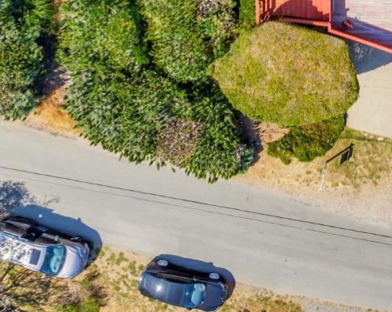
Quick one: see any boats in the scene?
No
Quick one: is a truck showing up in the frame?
No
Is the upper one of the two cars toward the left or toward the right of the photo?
left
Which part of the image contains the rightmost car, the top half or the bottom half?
bottom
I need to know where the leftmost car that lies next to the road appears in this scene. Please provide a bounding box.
[0,217,90,283]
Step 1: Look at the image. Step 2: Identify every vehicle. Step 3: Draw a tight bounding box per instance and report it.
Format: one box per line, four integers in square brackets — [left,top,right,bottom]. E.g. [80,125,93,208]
[0,217,90,283]
[136,259,230,312]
